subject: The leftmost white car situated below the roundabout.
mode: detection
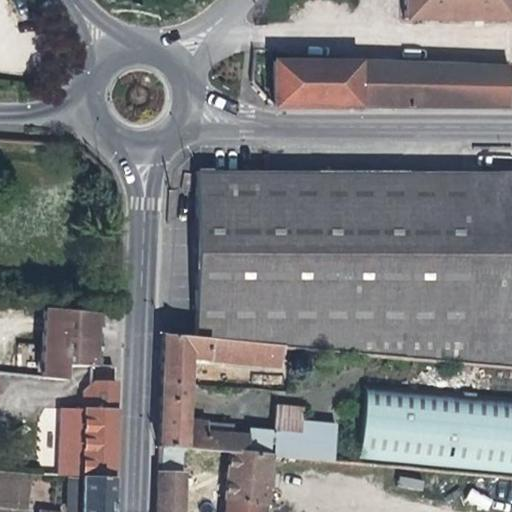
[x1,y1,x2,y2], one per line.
[120,160,134,184]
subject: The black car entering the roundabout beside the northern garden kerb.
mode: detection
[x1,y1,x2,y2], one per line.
[160,28,182,44]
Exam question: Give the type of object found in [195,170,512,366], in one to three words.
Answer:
warehouse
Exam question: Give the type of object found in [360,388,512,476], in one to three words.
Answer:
building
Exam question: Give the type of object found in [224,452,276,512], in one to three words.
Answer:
house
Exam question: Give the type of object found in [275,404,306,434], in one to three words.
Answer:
shed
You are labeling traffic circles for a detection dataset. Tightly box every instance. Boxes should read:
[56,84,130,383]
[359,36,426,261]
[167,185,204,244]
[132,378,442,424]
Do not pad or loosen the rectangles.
[92,50,184,142]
